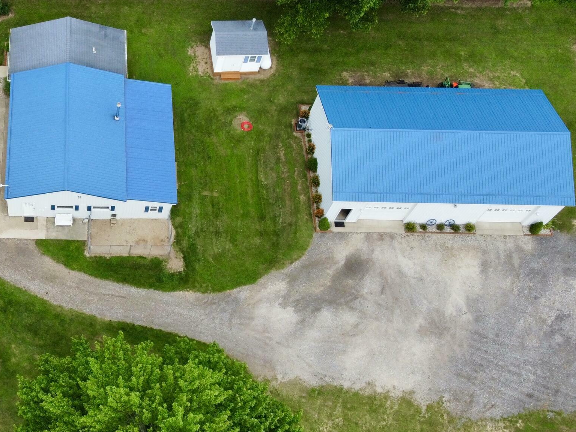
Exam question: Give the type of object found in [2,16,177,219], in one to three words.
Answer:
barn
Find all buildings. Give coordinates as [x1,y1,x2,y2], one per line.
[309,85,575,228]
[2,16,177,219]
[210,18,269,79]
